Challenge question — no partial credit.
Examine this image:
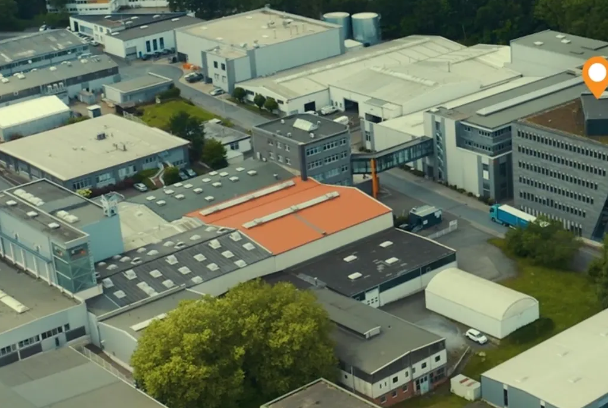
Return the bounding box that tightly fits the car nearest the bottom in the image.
[463,328,489,343]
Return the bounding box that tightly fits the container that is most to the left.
[402,202,445,227]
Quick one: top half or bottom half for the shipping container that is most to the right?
bottom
